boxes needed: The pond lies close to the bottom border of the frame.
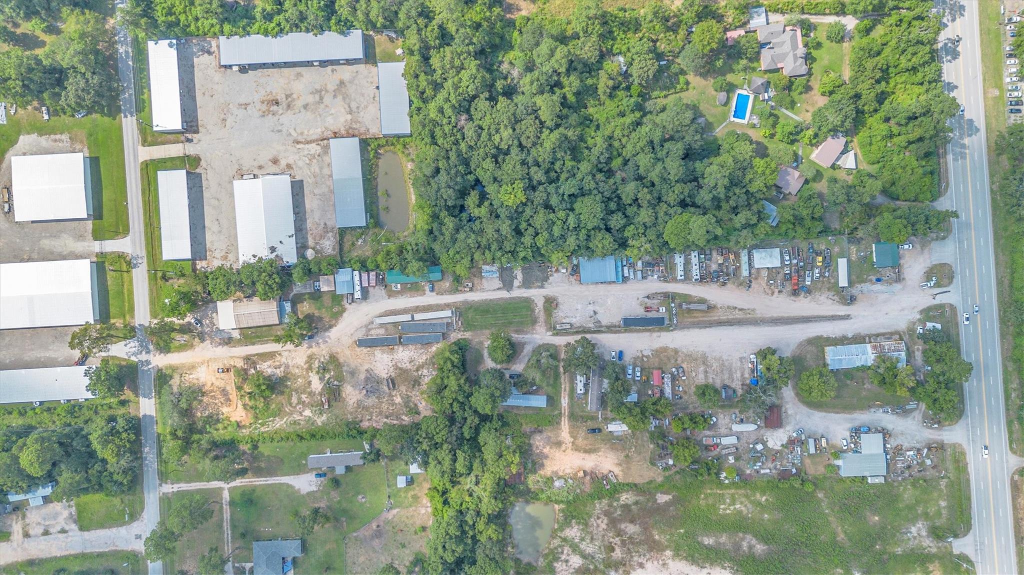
[509,501,556,563]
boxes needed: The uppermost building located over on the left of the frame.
[218,29,365,68]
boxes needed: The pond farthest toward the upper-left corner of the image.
[375,150,410,233]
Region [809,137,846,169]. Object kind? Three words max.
house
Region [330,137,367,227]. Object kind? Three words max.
building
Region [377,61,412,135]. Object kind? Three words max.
building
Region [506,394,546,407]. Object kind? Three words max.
barn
